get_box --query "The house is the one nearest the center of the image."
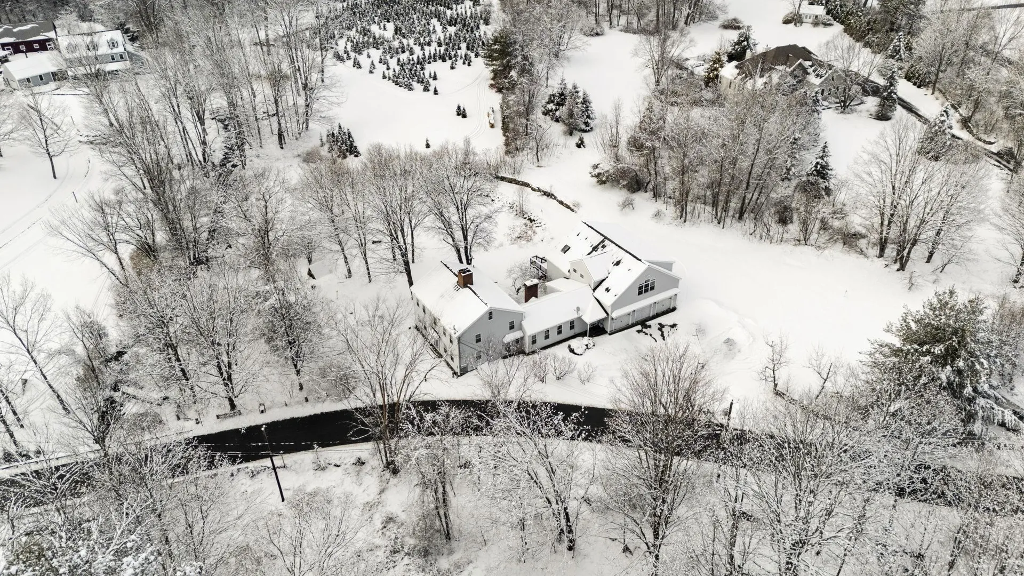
[408,220,684,380]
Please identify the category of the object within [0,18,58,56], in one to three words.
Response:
barn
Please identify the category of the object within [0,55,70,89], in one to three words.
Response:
house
